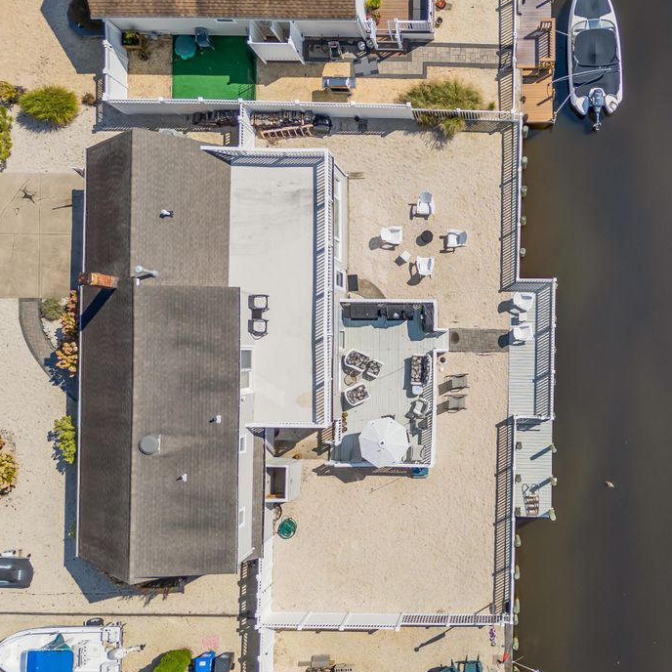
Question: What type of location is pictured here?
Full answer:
The picture captures a residential area.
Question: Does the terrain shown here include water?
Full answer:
Yes, water shows up in the scene.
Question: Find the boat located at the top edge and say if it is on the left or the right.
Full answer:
The boat located at the top edge is on the right side of the image.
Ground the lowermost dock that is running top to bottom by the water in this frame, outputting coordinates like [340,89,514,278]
[516,419,552,518]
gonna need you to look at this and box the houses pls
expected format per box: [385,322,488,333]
[85,0,362,35]
[76,130,349,583]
